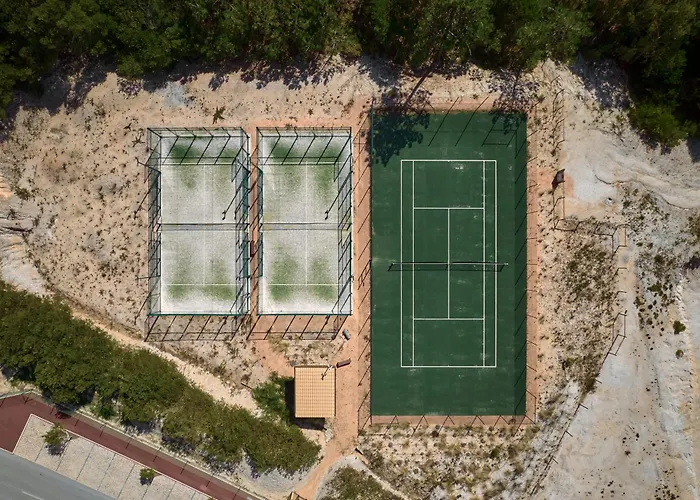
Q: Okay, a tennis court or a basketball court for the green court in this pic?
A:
tennis court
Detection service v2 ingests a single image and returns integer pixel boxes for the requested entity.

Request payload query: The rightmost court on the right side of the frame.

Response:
[362,109,537,425]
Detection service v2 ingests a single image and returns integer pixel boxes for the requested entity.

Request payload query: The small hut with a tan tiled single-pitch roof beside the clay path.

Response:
[295,365,336,417]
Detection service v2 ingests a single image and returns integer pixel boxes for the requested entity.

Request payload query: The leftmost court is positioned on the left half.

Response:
[145,127,251,317]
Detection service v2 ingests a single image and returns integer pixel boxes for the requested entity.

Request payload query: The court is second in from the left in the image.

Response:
[255,127,353,317]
